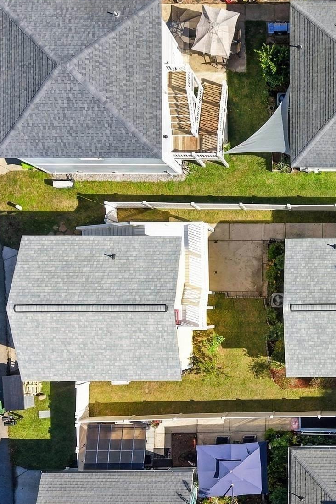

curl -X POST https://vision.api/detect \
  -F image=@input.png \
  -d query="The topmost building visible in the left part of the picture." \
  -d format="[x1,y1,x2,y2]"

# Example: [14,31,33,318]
[0,0,185,178]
